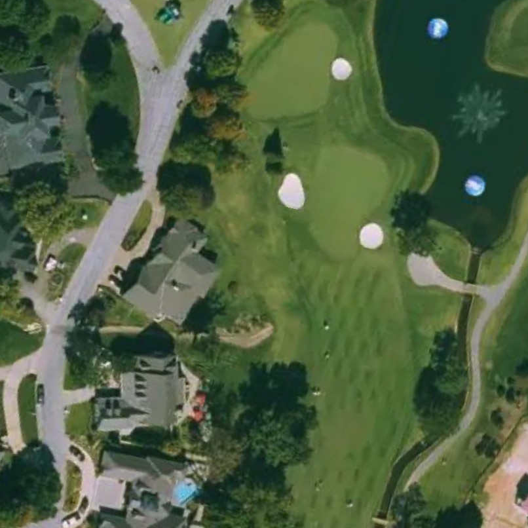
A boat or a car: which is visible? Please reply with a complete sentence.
The one in the frame is a car.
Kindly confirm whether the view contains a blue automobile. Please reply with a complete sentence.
No, no blue automobile is visible in the view.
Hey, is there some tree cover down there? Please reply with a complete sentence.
Yes, tree cover shows up in the scene.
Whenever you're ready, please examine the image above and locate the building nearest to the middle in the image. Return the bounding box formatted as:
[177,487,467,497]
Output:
[125,215,218,331]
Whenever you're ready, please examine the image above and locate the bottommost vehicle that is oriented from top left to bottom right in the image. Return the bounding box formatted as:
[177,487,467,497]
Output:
[69,442,86,459]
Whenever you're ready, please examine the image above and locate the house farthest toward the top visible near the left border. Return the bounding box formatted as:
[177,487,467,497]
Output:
[0,65,64,174]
